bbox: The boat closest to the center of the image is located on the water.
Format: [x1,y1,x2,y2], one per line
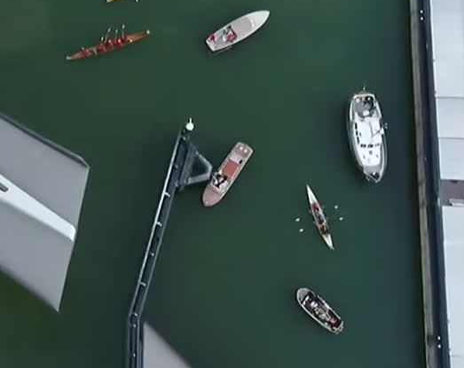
[200,142,253,207]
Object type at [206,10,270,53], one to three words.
boat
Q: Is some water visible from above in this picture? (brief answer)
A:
Yes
